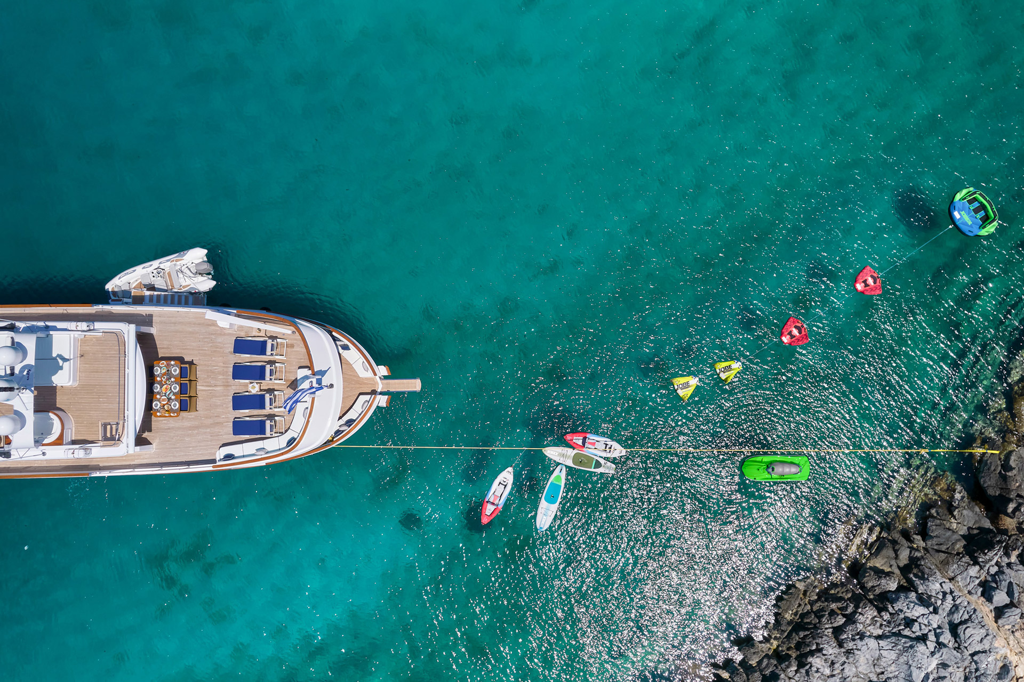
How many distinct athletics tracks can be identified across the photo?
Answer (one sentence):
The picture shows no athletics tracks.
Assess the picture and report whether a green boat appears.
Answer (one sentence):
Yes, the photo shows a green boat.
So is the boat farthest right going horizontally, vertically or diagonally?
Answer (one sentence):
The boat farthest right has been laid out horizontally relative to the frame.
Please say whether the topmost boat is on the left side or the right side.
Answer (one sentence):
You can find the topmost boat on the left side of the picture.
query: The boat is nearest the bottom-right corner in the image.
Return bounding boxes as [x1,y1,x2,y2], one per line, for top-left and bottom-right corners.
[741,456,811,481]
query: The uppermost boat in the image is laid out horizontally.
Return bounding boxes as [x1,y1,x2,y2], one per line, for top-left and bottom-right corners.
[106,248,215,303]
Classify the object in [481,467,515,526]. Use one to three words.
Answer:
boat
